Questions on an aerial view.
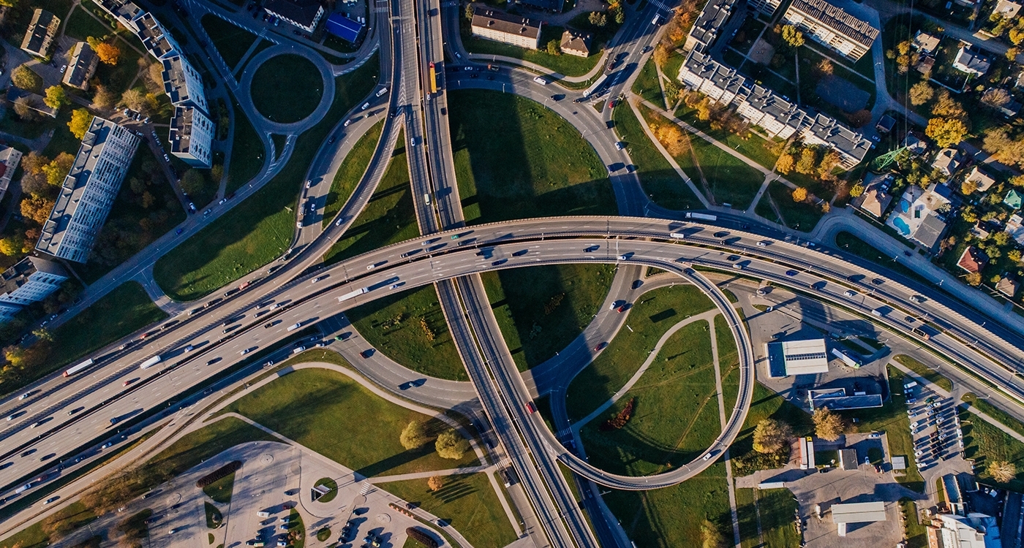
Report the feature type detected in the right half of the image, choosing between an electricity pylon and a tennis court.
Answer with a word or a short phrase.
electricity pylon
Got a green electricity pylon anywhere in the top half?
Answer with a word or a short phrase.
Yes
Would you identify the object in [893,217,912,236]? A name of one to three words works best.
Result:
swimming pool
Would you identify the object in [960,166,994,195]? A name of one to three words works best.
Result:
house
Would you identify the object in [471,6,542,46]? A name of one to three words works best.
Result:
building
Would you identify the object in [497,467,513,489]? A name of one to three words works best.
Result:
vehicle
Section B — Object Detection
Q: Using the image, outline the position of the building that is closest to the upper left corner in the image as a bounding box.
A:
[19,8,63,58]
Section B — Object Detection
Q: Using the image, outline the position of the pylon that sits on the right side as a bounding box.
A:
[864,146,910,174]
